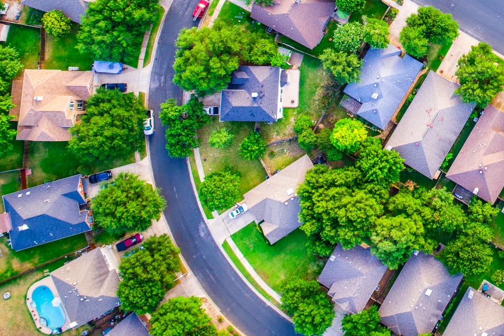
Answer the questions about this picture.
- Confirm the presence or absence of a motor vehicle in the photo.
Yes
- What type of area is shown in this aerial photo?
residential area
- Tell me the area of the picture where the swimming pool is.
bottom left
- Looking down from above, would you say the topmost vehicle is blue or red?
red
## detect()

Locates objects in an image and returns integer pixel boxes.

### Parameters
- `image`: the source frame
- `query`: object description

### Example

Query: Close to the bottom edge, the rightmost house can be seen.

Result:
[442,287,504,336]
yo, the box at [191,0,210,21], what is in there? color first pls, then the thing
red vehicle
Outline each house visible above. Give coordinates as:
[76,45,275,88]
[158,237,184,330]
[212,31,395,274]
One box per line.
[251,0,337,50]
[96,318,151,336]
[0,174,98,252]
[22,0,112,25]
[446,104,504,204]
[49,247,125,327]
[10,70,102,143]
[242,155,313,245]
[442,287,504,336]
[341,38,424,130]
[382,71,477,176]
[219,66,285,121]
[317,244,388,313]
[381,254,460,336]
